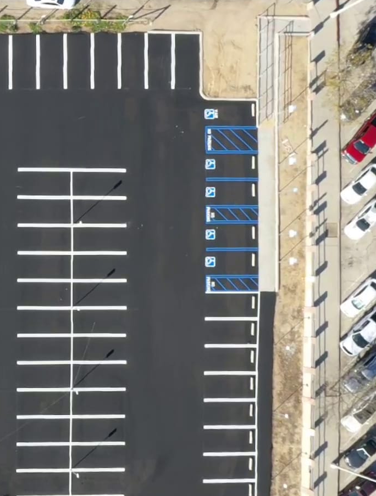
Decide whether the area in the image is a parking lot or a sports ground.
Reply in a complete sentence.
This image shows a parking lot.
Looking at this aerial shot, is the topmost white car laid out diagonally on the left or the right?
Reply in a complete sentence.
The topmost white car laid out diagonally appears in the right half of the scene.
